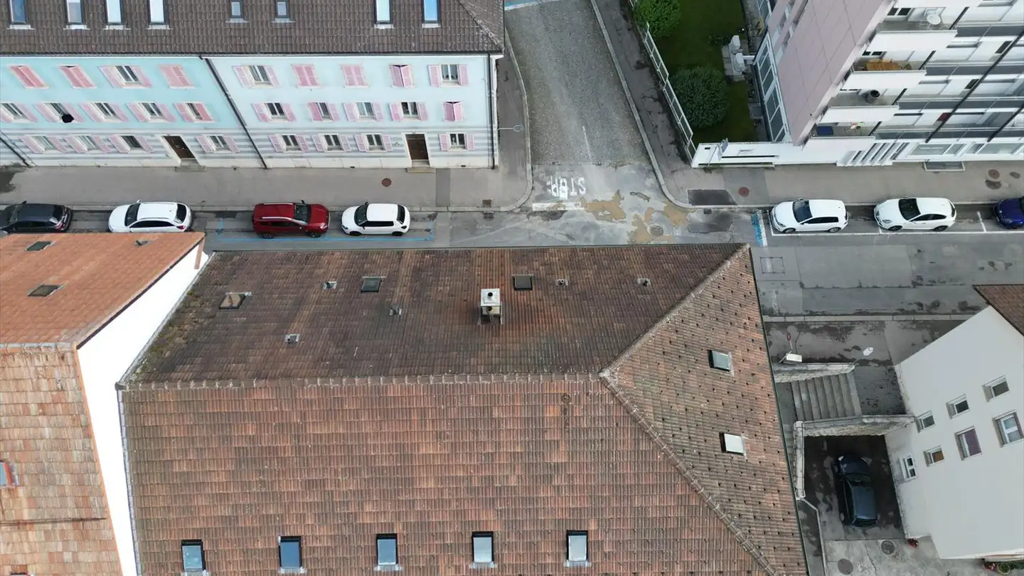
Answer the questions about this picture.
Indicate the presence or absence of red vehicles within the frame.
Yes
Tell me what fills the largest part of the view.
buildings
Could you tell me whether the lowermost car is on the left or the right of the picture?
right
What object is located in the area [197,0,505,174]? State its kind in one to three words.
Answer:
house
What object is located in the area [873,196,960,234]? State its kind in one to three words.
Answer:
car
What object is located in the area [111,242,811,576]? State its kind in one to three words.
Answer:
building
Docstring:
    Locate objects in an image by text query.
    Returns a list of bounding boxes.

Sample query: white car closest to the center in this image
[341,199,410,236]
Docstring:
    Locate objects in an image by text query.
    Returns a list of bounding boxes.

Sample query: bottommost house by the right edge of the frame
[883,297,1024,560]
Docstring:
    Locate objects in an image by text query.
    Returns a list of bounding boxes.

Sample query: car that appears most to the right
[994,199,1024,232]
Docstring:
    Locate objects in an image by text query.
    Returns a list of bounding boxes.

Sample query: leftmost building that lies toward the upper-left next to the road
[0,0,263,174]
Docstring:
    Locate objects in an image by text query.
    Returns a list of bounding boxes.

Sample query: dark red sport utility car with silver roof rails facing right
[249,199,330,238]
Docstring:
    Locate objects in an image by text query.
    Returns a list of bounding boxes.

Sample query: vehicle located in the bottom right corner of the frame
[830,458,877,530]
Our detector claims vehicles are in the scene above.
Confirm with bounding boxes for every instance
[830,458,877,530]
[0,202,73,235]
[249,199,330,238]
[341,199,410,236]
[994,199,1024,232]
[108,201,193,235]
[873,196,960,234]
[769,195,847,233]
